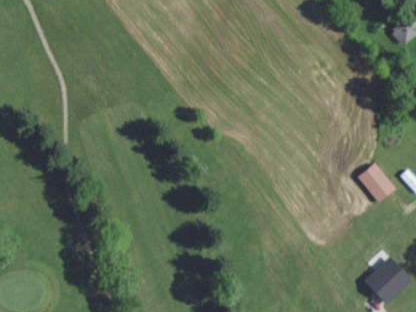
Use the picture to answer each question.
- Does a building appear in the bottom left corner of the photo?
No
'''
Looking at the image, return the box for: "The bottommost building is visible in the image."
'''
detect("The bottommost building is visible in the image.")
[366,250,413,304]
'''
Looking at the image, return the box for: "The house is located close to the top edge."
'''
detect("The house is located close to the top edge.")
[393,13,416,44]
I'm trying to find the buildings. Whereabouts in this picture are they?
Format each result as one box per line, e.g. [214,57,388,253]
[359,163,396,202]
[366,250,413,304]
[401,168,416,194]
[393,13,416,44]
